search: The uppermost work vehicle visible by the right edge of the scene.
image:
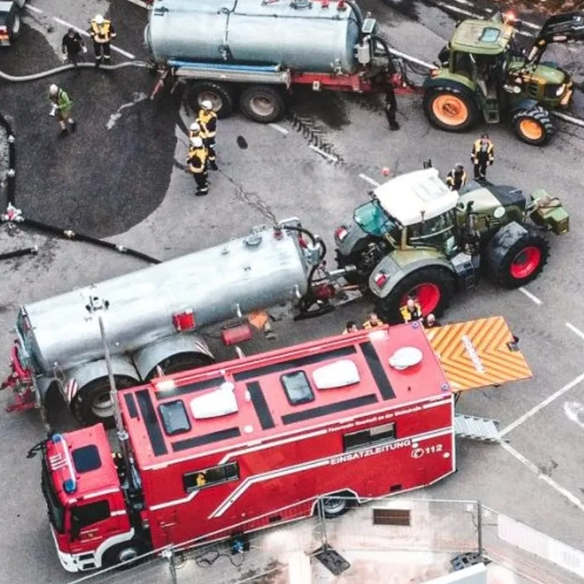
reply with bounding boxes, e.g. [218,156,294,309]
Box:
[416,7,584,146]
